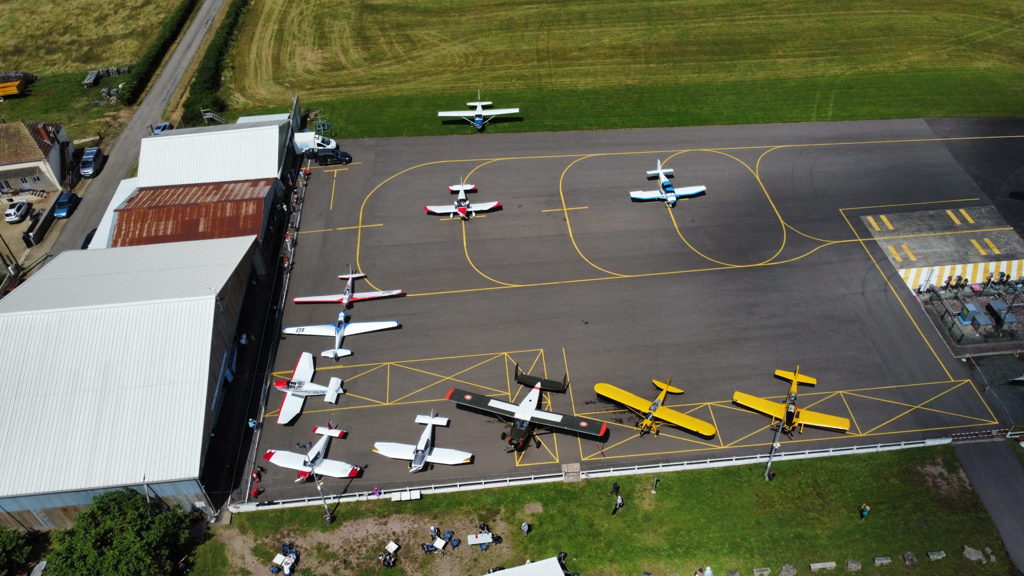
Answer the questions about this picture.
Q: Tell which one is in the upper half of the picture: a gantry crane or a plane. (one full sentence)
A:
There is a plane in the upper half of the picture.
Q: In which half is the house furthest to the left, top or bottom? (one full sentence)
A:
The top half of the photo is where the house furthest to the left is.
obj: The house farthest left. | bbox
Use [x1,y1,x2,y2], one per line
[0,120,90,203]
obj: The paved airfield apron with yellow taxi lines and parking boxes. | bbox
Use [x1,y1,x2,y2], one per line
[221,116,1024,512]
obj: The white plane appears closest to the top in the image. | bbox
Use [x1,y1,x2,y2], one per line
[437,92,520,134]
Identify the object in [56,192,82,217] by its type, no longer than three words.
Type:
car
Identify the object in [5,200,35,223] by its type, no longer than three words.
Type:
car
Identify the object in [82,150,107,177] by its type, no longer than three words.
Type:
vehicle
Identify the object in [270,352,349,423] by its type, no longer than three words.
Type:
airplane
